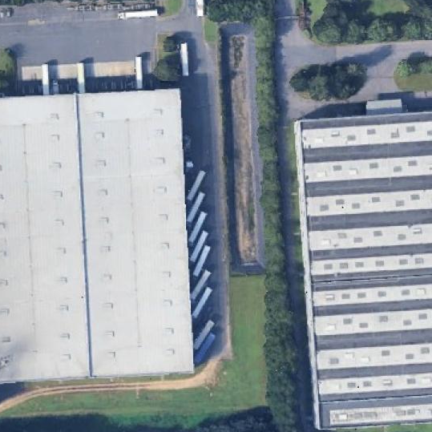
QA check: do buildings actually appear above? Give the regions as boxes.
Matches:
[291,99,432,429]
[0,88,194,384]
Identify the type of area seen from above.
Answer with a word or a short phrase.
industrial area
